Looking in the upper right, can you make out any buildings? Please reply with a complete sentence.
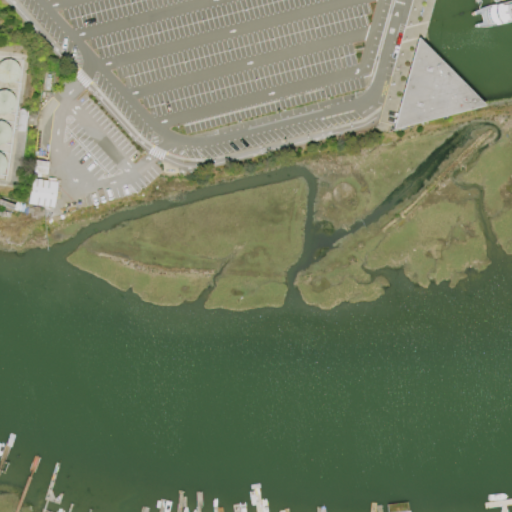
Yes, the scene does show a building in the upper right.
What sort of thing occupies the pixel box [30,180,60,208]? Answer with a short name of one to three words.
building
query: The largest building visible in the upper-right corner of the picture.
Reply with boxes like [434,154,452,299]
[394,36,488,128]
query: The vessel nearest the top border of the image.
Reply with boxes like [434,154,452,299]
[472,4,512,32]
